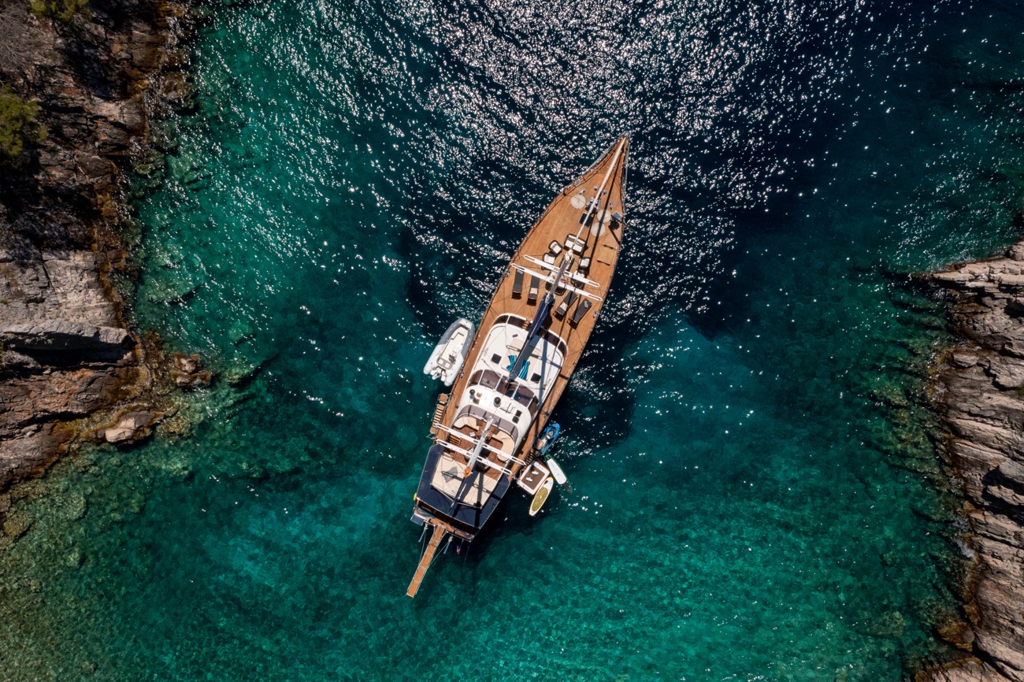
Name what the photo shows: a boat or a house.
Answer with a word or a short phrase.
boat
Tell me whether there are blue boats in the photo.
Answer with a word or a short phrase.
Yes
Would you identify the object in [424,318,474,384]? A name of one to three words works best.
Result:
boat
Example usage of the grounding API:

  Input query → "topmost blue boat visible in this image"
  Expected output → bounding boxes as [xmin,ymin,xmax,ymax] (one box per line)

[532,423,562,459]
